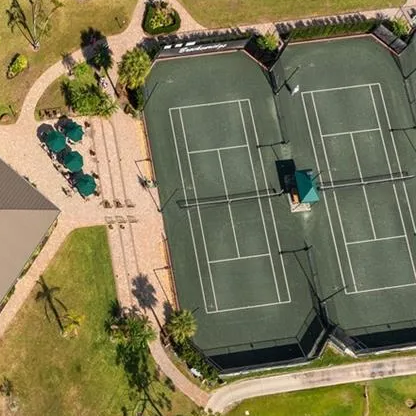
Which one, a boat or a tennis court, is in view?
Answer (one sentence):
The image shows a tennis court.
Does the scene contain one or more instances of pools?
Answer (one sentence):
No, the scene contains no pool.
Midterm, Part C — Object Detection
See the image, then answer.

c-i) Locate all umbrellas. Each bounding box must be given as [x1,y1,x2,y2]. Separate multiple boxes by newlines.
[64,150,84,172]
[46,130,66,153]
[65,121,85,144]
[76,173,96,196]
